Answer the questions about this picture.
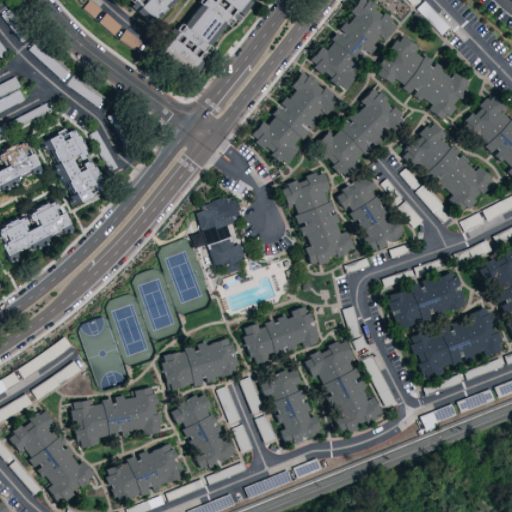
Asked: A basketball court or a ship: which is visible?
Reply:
basketball court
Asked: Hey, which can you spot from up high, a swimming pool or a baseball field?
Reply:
swimming pool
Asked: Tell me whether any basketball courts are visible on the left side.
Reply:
Yes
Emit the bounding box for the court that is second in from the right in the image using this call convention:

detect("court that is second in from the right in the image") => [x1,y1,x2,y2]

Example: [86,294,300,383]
[132,270,182,340]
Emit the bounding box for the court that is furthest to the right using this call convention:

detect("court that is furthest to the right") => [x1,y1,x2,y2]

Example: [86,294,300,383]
[158,240,209,314]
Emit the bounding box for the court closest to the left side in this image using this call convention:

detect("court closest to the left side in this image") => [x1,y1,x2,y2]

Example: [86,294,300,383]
[78,316,126,390]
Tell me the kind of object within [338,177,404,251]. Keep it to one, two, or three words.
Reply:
building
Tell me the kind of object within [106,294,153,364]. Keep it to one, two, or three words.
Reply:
tennis court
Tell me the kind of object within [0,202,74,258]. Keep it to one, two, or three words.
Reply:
building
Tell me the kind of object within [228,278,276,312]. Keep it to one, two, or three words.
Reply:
swimming pool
